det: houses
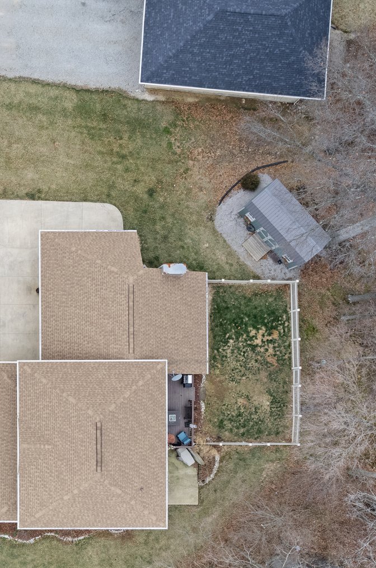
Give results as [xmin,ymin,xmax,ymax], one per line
[0,229,208,530]
[138,0,333,108]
